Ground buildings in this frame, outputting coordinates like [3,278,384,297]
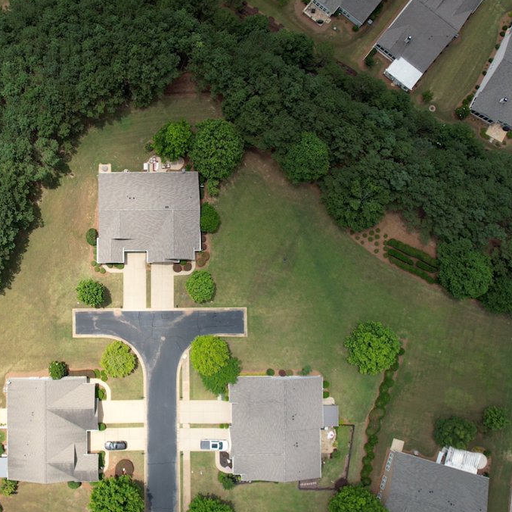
[312,0,383,25]
[375,0,482,92]
[468,27,512,130]
[229,376,338,484]
[0,377,99,486]
[97,173,201,264]
[381,445,493,512]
